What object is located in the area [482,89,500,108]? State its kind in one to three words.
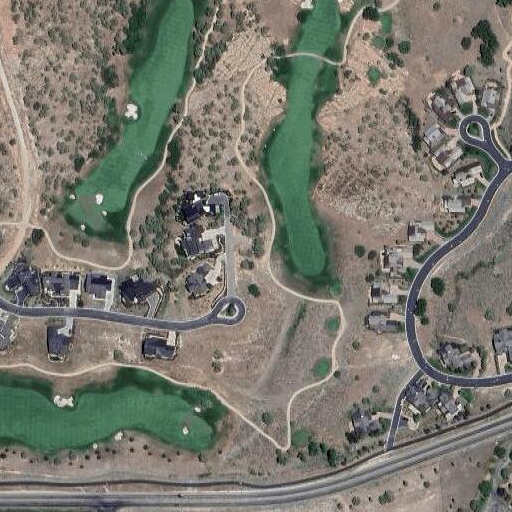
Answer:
house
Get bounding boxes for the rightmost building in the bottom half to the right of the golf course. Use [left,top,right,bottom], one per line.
[492,329,512,363]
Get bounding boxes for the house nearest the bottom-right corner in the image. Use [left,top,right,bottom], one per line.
[438,391,463,420]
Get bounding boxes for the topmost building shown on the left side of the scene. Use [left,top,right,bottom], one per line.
[181,190,215,225]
